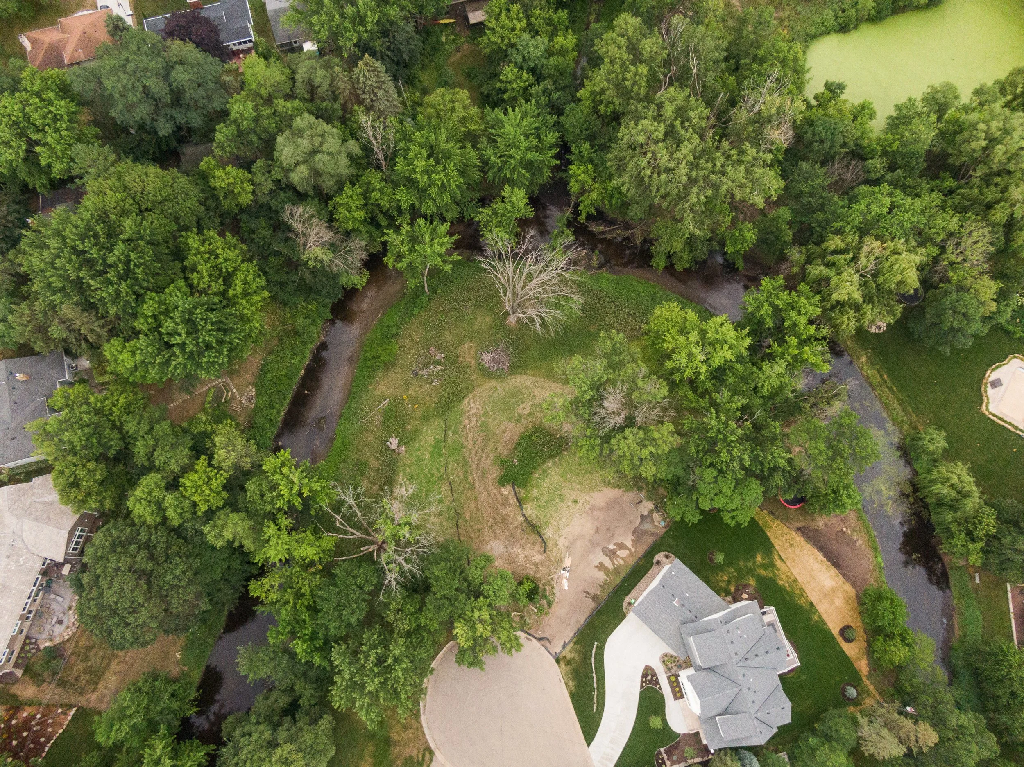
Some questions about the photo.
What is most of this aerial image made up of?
trees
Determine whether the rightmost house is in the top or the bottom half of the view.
bottom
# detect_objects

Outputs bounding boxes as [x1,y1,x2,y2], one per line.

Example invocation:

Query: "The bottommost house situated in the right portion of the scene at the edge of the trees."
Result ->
[632,558,801,760]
